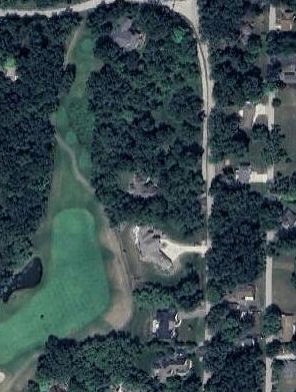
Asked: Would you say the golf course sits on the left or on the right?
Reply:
left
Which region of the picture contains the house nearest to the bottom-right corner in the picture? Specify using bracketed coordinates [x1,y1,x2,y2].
[271,356,296,382]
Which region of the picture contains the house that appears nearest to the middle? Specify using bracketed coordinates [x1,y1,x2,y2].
[128,176,158,199]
